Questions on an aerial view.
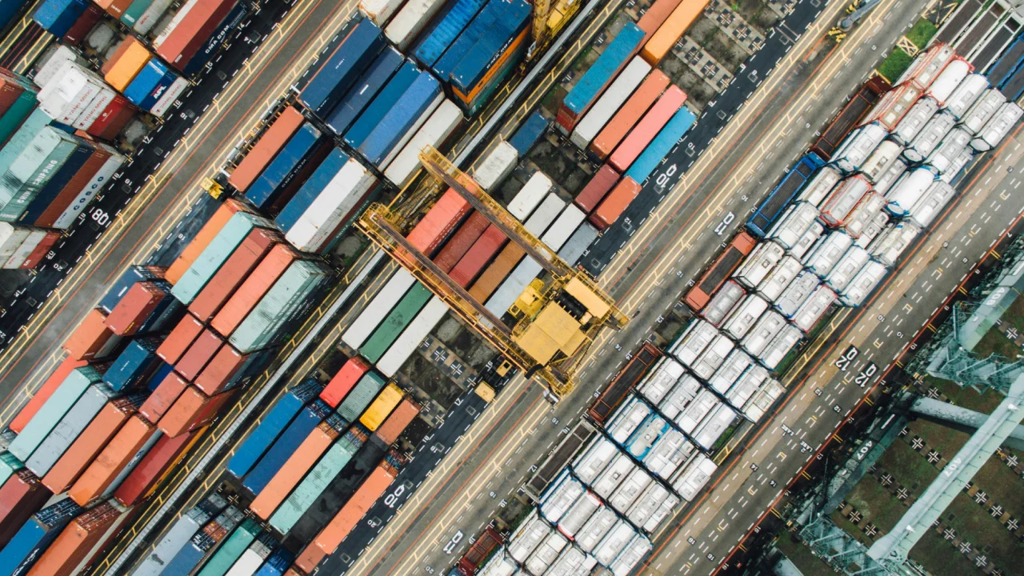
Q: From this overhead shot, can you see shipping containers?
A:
Yes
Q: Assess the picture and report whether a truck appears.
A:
Yes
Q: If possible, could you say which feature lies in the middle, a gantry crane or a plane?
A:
gantry crane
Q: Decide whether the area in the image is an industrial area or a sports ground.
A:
industrial area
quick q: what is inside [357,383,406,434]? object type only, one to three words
shipping container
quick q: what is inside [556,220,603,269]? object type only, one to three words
shipping container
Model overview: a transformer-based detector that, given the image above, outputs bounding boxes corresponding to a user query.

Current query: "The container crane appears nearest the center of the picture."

[352,137,625,400]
